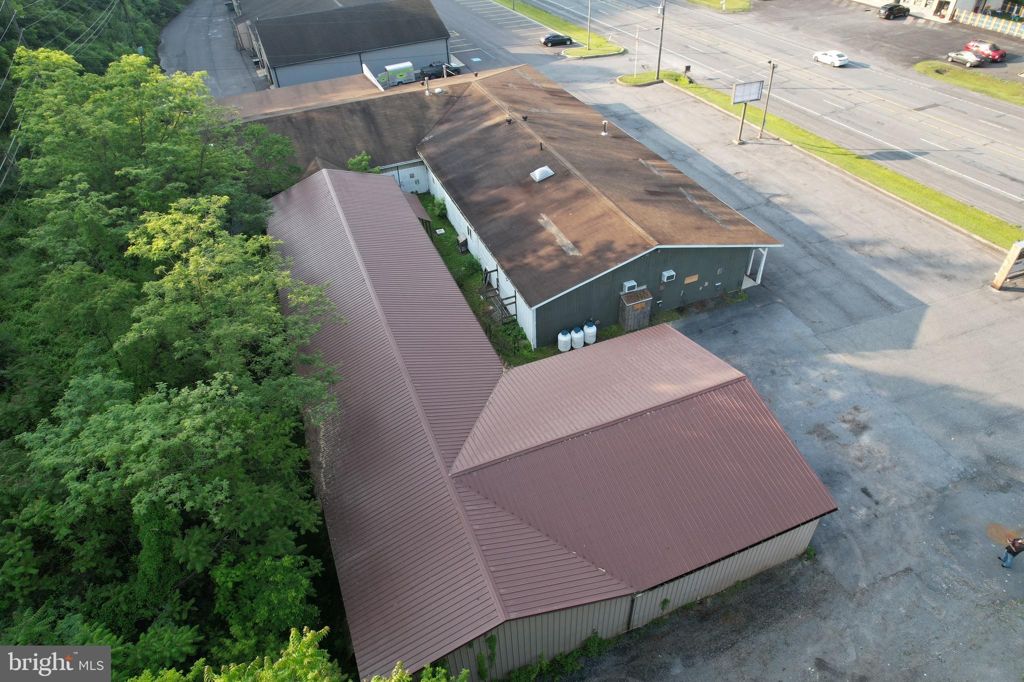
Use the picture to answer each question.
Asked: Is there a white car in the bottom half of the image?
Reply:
No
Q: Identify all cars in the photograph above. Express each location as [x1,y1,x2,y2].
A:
[967,38,1010,62]
[945,47,991,66]
[813,48,851,66]
[880,2,911,18]
[540,31,574,46]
